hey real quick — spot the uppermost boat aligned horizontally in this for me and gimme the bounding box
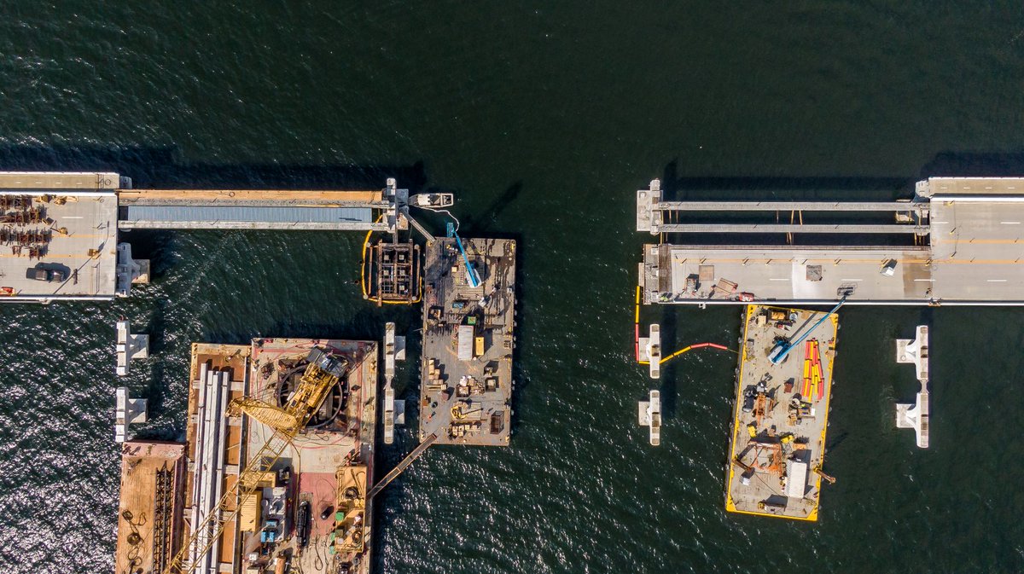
[410,192,454,208]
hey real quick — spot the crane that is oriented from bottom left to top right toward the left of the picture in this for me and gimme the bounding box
[162,343,355,574]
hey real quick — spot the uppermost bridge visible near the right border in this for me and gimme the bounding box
[658,178,1024,306]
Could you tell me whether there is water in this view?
Yes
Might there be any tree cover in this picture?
No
